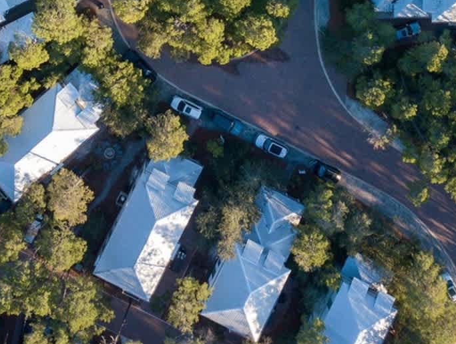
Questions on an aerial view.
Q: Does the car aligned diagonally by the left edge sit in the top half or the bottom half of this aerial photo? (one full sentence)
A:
It is in the bottom half that the car aligned diagonally by the left edge appears.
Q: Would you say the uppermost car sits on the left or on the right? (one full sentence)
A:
The uppermost car sits on the right side.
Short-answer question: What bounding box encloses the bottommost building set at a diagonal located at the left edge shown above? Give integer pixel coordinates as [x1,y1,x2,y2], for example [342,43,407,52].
[0,70,107,204]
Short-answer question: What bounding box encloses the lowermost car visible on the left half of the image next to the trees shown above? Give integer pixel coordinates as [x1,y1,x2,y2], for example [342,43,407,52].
[170,242,191,273]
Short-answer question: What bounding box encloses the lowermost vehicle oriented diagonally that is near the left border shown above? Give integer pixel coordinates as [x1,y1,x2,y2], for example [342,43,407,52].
[20,215,44,247]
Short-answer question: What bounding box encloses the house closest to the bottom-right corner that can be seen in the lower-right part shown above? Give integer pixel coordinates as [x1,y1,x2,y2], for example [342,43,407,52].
[297,252,398,344]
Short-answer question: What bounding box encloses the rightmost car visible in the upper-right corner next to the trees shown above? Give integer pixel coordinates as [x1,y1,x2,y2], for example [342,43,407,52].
[394,22,424,43]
